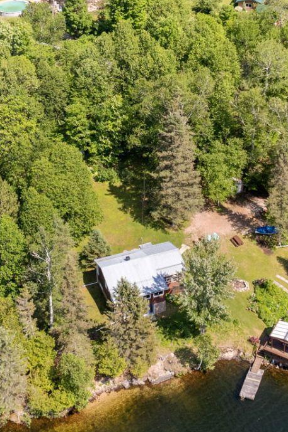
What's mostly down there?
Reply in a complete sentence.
Most of the picture is covered by trees.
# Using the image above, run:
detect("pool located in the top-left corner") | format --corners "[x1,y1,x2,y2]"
[0,1,26,19]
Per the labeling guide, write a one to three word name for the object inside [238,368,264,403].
pier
